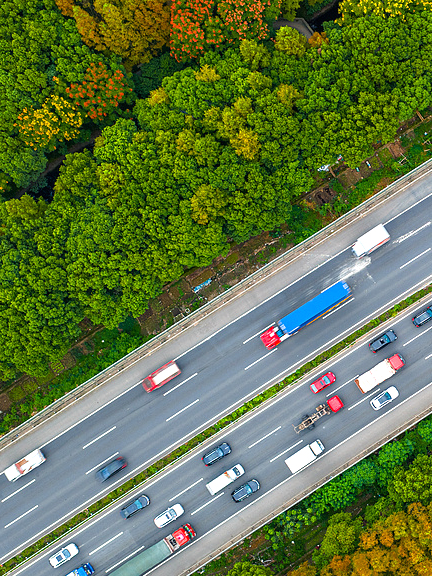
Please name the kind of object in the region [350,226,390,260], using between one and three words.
truck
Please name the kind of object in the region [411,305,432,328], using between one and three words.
car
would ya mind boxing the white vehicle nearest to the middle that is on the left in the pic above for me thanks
[142,360,183,393]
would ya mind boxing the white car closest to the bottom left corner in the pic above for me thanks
[48,543,80,568]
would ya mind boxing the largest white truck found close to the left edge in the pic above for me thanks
[6,447,49,482]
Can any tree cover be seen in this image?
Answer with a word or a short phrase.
Yes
